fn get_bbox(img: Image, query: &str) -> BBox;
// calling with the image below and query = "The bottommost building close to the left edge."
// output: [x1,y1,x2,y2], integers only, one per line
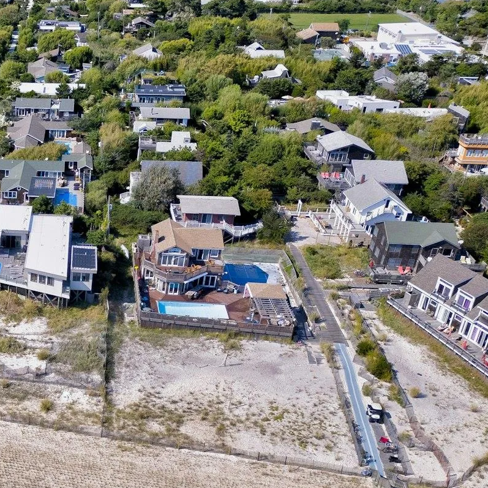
[0,202,98,326]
